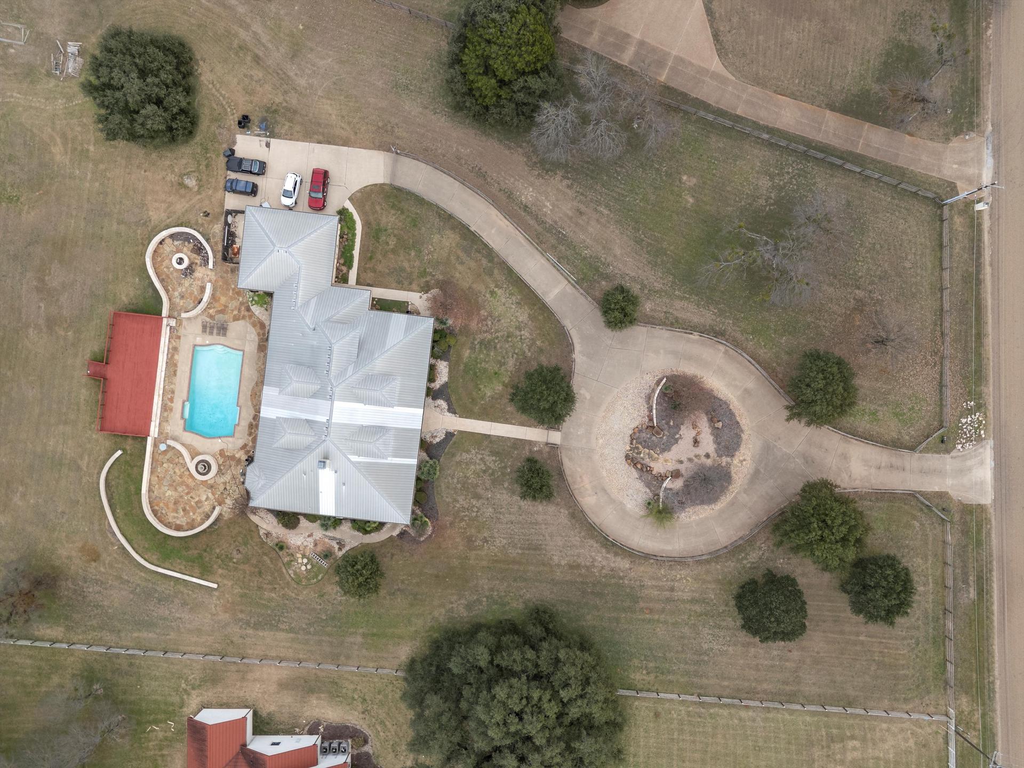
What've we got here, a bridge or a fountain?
fountain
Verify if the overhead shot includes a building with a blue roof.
No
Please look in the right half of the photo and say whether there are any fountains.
No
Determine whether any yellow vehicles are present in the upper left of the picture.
No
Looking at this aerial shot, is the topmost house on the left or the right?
left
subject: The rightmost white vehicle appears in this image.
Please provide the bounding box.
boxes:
[281,172,303,210]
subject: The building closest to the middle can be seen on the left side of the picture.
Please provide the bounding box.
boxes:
[236,204,434,525]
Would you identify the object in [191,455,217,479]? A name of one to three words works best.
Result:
fountain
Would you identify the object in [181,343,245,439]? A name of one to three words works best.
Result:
swimming pool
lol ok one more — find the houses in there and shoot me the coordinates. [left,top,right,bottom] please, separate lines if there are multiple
[236,204,434,525]
[188,708,351,768]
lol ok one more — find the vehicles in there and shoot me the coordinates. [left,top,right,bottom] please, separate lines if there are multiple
[225,178,261,198]
[225,157,269,177]
[281,172,303,210]
[308,168,330,212]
